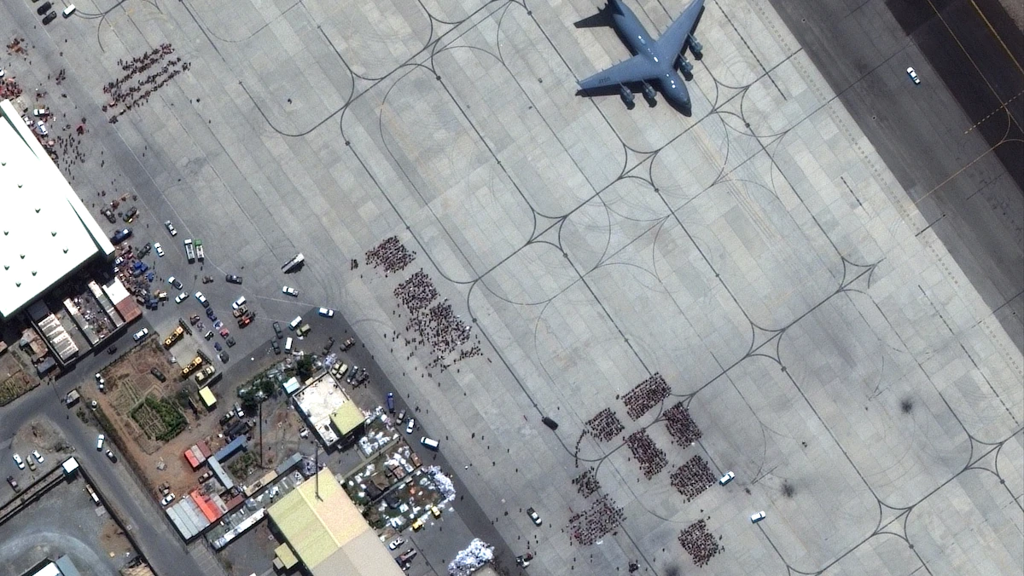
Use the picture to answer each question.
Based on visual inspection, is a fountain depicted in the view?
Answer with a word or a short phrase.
No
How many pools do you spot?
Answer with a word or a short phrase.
zero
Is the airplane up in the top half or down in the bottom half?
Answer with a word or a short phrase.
top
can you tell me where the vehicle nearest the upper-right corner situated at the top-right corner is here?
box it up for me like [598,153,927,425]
[907,67,921,84]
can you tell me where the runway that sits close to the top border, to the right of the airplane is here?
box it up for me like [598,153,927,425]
[889,0,1024,192]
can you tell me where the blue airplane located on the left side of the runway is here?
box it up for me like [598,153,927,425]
[575,0,711,110]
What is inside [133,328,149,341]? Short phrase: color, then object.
white vehicle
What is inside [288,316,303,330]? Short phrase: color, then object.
white vehicle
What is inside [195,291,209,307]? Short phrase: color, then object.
white car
